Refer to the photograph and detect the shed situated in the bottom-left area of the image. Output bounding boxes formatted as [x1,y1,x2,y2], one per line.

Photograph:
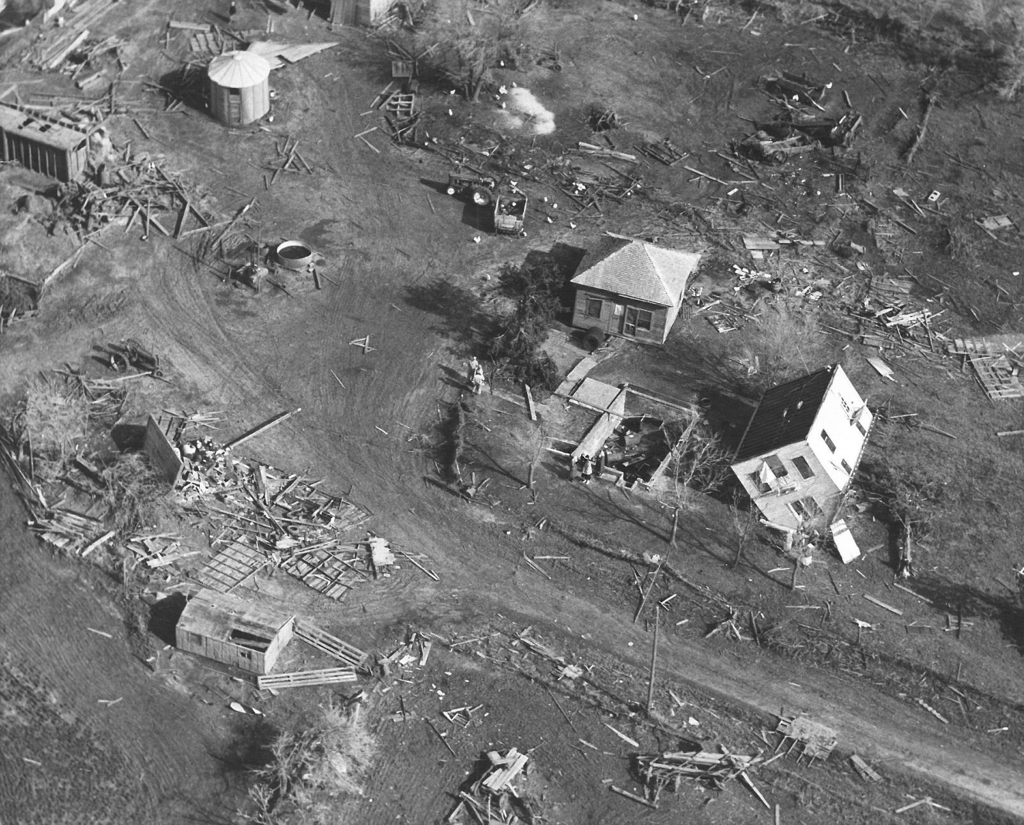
[170,580,295,679]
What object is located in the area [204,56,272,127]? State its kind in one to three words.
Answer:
silo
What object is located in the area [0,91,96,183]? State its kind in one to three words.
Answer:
shed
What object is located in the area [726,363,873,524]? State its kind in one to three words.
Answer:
house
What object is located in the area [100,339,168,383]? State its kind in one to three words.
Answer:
work vehicle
